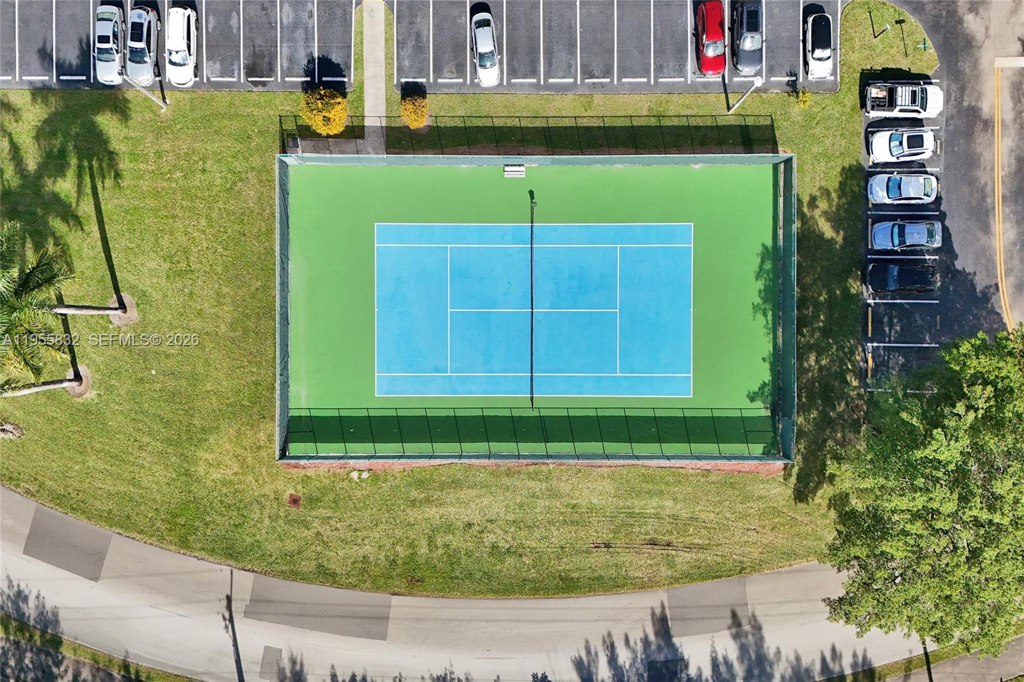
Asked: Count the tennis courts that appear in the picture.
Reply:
one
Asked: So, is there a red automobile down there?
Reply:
Yes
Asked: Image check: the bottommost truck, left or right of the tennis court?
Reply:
to its right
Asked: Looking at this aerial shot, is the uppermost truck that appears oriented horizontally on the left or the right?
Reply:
right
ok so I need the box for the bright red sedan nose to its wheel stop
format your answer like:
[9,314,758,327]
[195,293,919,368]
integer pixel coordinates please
[695,0,729,79]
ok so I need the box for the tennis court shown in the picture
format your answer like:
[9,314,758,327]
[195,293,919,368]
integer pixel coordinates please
[290,165,781,454]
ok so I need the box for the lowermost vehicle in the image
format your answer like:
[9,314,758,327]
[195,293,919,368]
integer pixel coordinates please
[863,260,939,295]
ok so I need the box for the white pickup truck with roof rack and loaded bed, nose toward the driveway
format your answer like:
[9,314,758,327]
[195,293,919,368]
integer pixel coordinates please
[862,80,944,120]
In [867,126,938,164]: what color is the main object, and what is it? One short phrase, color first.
white car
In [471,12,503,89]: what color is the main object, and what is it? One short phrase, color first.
white car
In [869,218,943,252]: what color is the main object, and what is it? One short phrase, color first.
blue car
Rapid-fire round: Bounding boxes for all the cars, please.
[471,12,503,89]
[732,0,767,77]
[865,170,938,206]
[124,5,161,87]
[802,11,837,81]
[867,126,938,164]
[163,5,200,89]
[695,0,729,79]
[869,218,943,252]
[91,6,128,87]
